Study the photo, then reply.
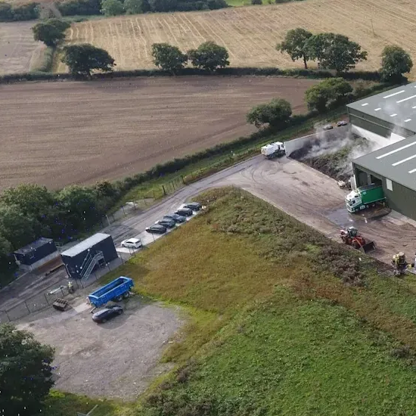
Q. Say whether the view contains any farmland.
Yes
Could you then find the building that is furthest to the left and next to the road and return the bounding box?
[11,238,65,271]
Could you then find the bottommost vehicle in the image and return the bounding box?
[92,303,125,321]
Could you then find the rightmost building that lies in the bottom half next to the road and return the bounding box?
[58,233,117,278]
